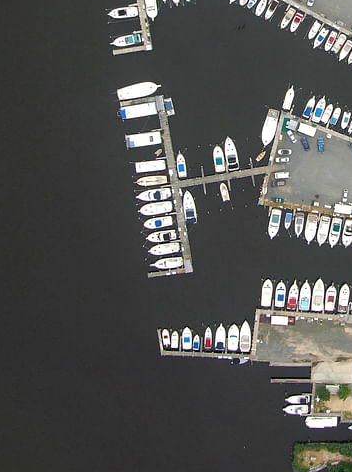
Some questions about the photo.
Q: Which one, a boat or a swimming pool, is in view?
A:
boat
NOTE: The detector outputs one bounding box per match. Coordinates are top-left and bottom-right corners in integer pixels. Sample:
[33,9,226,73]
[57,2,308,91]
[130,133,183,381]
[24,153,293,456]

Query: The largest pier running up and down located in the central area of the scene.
[160,104,192,273]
